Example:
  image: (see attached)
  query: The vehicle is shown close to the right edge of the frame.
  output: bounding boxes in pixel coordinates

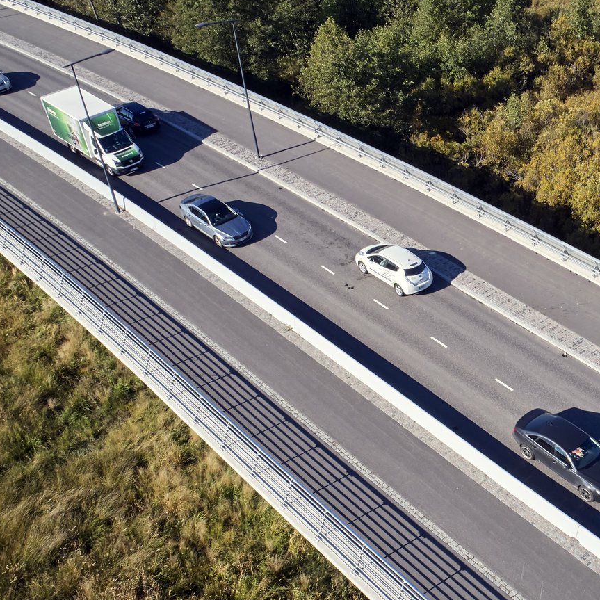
[514,408,600,501]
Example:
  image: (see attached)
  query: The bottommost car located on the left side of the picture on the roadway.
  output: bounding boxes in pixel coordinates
[179,193,253,247]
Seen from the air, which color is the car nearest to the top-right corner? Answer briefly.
white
